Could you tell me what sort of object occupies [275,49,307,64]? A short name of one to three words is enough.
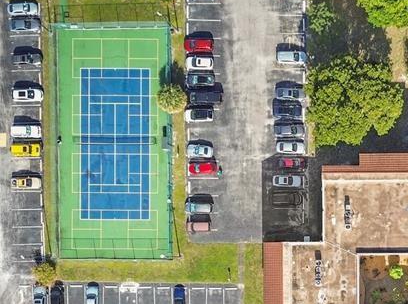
vehicle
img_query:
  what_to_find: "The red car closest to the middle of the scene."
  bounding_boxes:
[187,161,216,175]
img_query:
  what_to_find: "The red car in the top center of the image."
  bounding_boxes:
[183,38,213,53]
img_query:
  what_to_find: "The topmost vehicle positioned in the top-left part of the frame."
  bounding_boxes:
[9,2,40,17]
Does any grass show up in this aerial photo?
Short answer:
Yes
